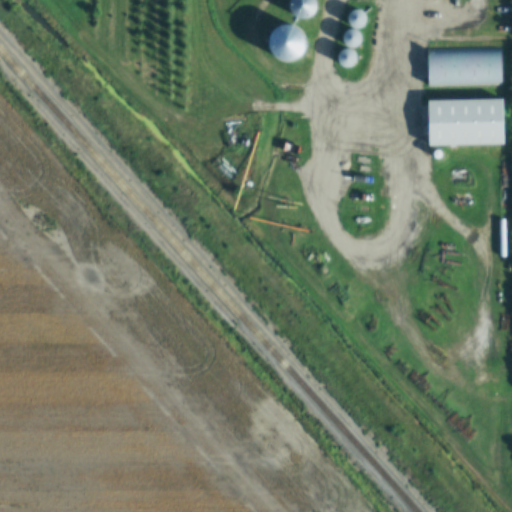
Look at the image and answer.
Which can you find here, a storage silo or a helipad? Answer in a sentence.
There is a storage silo in the scene.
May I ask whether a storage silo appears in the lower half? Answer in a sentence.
No, no storage silo can be made out in the lower half.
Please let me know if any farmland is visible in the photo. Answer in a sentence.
Yes, there is farmland in the image.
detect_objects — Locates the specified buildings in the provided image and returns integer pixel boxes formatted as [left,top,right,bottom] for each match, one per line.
[428,48,504,86]
[428,98,506,146]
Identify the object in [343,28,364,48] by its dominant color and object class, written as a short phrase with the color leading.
white silo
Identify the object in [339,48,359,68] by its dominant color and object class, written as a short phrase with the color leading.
white silo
